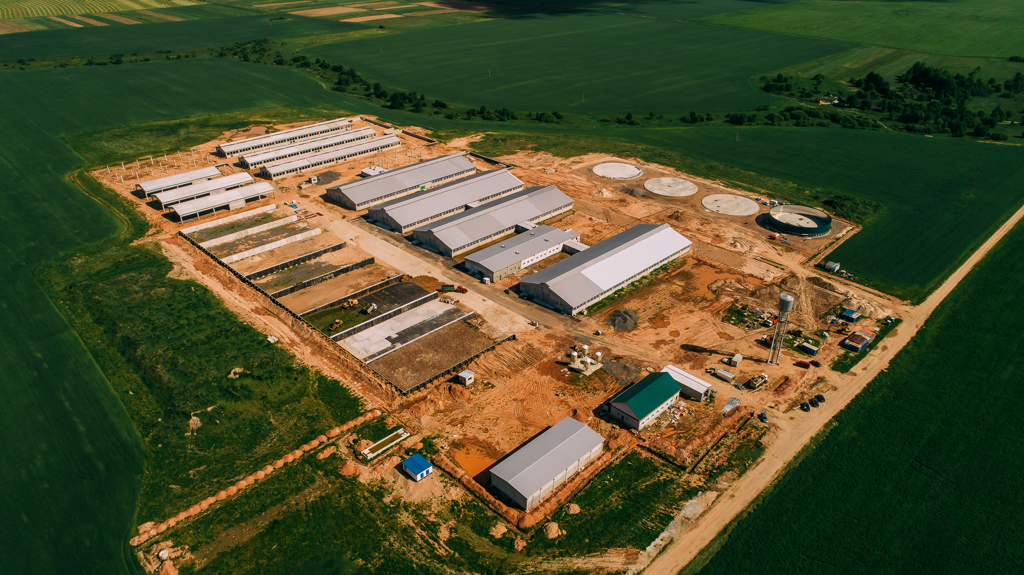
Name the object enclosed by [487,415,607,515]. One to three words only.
building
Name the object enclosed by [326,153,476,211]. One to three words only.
barn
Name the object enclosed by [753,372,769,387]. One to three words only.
vehicle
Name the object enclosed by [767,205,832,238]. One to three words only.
storage tank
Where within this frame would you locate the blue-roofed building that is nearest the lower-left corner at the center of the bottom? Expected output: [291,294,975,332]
[403,455,433,481]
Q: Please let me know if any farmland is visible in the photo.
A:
Yes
